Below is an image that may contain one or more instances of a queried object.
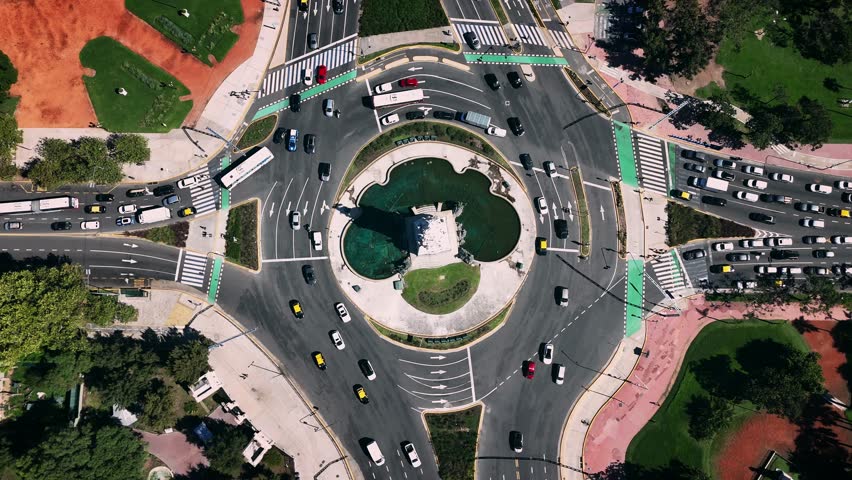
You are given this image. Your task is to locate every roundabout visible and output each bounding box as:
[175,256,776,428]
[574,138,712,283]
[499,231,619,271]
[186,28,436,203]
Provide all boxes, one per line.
[228,43,641,443]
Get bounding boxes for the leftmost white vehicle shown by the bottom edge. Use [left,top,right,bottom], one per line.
[367,440,385,467]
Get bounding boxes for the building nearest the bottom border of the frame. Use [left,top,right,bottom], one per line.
[246,429,276,461]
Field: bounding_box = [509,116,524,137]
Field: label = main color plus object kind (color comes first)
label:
black car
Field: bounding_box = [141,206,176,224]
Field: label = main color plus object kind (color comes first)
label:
white vehicle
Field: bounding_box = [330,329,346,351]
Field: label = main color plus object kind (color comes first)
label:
white car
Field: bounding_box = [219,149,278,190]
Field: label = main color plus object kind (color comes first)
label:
white bus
